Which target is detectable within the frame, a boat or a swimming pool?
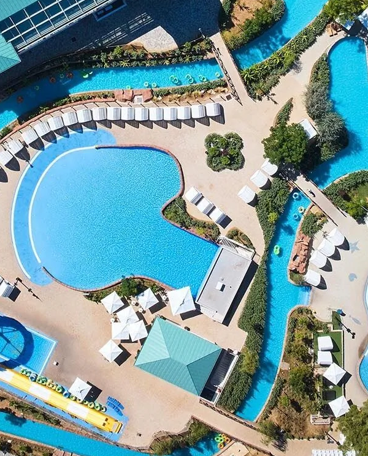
swimming pool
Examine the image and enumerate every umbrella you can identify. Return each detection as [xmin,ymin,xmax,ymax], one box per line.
[69,376,92,399]
[116,301,140,326]
[128,320,147,340]
[322,361,345,384]
[100,291,124,315]
[327,395,348,417]
[168,287,194,314]
[112,322,129,340]
[99,338,123,363]
[137,286,160,310]
[353,7,368,31]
